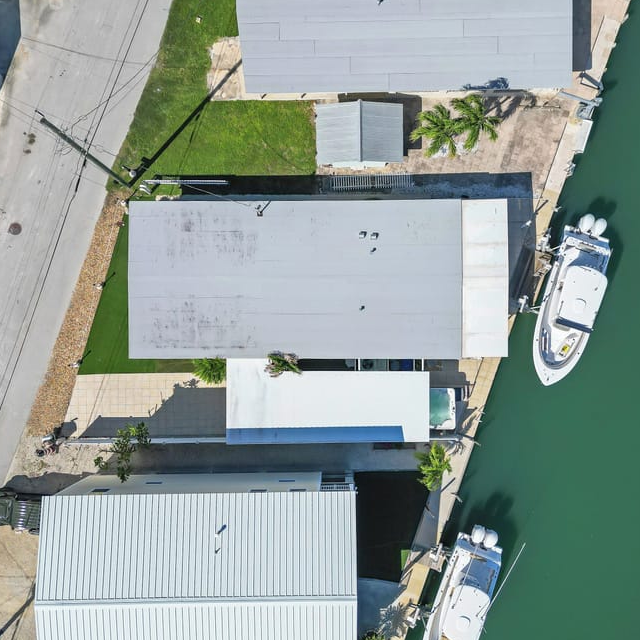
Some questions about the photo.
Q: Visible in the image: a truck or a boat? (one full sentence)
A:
Visible in the photo is a boat.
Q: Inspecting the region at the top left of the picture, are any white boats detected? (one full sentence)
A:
No, I see no white boat at the top left of the picture.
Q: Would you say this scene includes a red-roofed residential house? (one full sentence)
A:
No, no red-roofed residential house is visible in the view.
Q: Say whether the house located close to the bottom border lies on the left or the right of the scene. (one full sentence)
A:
The house located close to the bottom border is on the left side of the image.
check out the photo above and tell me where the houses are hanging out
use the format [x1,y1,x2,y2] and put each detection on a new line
[127,198,508,359]
[34,475,363,640]
[236,0,576,98]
